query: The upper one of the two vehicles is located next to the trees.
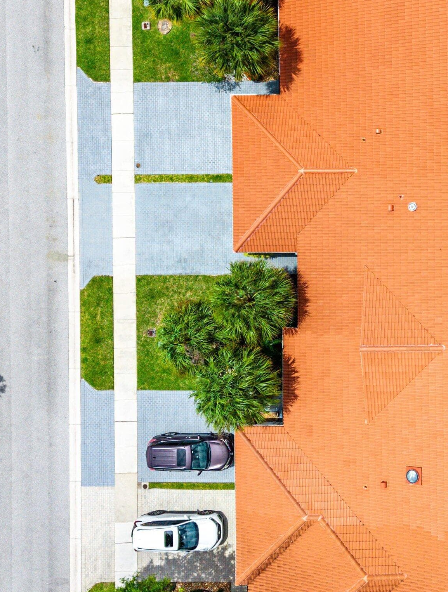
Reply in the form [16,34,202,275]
[144,435,237,483]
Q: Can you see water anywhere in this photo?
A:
No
